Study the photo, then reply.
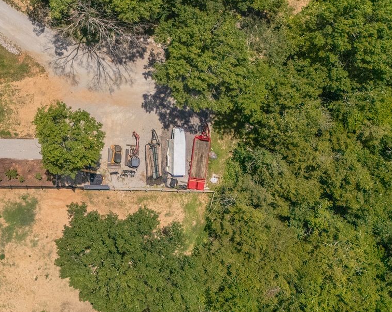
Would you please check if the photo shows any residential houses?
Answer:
No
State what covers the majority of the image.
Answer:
trees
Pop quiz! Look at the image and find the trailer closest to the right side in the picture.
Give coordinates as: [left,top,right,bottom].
[186,122,211,190]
